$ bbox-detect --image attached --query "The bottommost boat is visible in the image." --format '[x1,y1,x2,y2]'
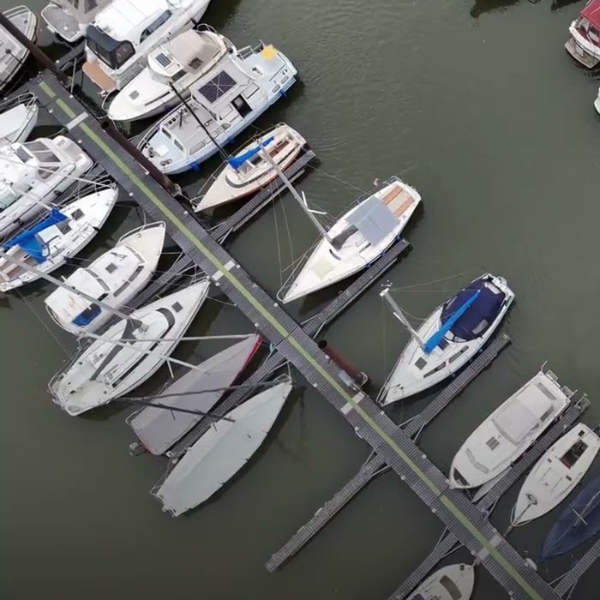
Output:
[403,560,480,600]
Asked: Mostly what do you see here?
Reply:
water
